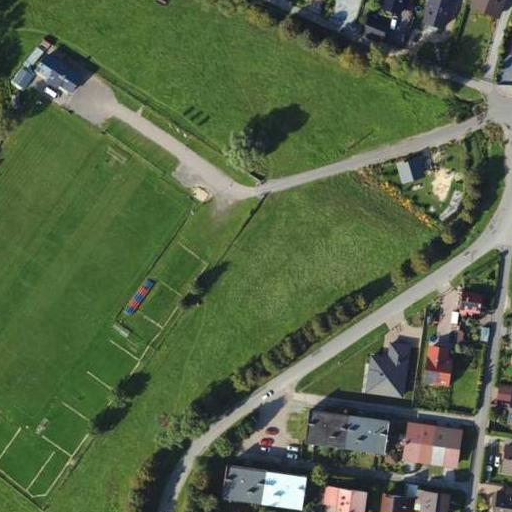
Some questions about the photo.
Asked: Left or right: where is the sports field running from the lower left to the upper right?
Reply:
left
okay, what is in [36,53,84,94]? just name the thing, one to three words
building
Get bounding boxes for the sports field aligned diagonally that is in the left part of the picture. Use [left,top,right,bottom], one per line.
[0,203,209,504]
